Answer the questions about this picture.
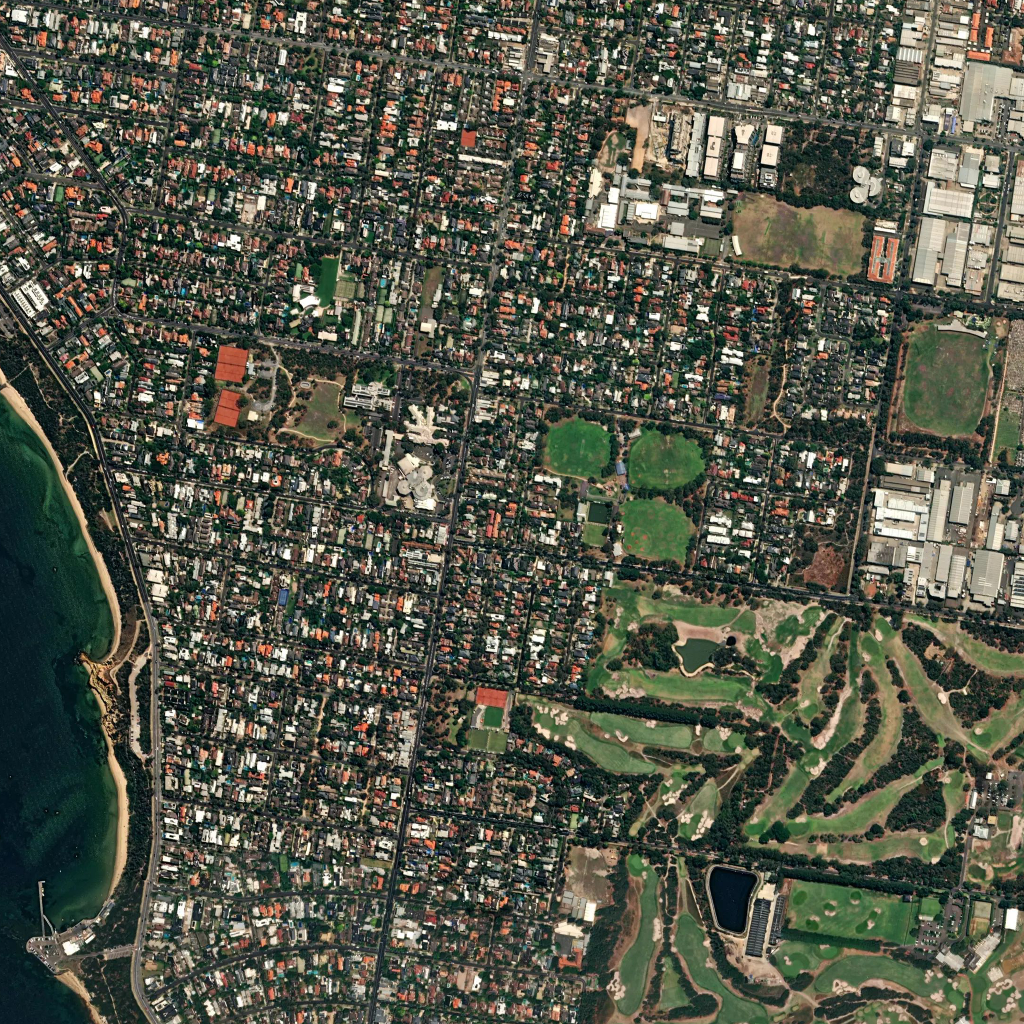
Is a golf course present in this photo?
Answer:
Yes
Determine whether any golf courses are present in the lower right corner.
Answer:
Yes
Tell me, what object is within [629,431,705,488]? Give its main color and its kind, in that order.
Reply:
green sports field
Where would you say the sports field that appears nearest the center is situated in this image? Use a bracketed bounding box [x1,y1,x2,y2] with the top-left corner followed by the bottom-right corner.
[546,418,611,476]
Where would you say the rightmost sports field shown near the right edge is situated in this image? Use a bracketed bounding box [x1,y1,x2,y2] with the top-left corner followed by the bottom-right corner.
[904,330,989,435]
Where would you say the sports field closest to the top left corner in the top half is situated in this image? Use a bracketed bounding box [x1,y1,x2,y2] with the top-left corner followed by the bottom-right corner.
[314,257,339,306]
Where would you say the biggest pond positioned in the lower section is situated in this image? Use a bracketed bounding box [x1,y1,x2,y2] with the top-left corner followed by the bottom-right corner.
[706,863,760,936]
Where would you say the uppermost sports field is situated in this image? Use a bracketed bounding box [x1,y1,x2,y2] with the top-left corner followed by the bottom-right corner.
[599,132,626,166]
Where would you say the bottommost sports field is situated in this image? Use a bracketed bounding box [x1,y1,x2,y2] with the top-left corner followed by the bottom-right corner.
[564,847,614,902]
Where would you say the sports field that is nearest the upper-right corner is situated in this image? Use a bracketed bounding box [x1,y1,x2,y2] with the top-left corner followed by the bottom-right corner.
[735,193,865,275]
